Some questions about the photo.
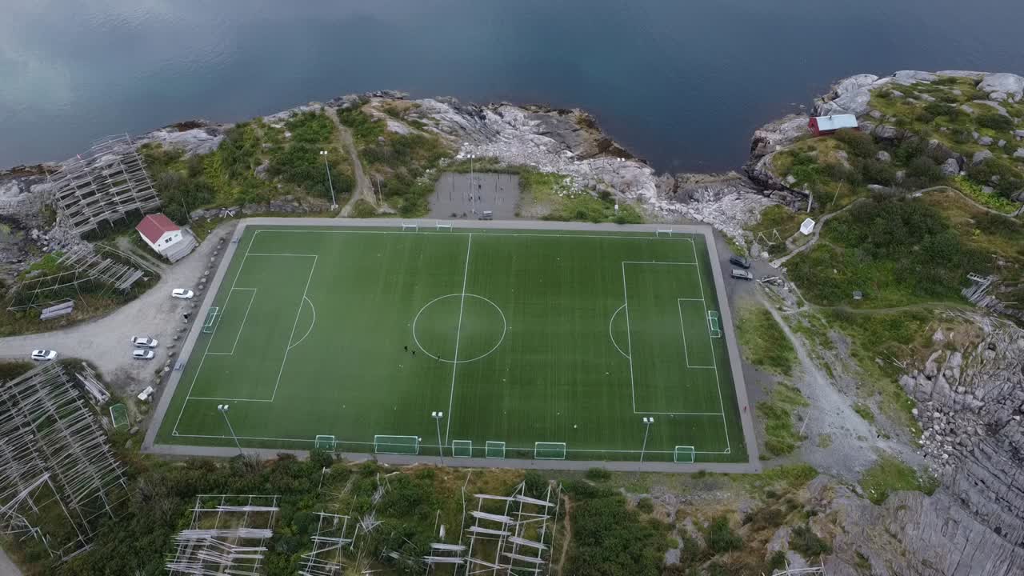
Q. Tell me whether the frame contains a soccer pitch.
Yes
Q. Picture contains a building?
Yes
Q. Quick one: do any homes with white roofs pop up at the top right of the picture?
Yes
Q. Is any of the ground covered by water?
Yes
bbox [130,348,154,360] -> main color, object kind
white vehicle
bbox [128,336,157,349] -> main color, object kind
white vehicle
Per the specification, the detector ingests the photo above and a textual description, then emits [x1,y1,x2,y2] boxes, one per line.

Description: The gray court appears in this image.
[429,173,522,221]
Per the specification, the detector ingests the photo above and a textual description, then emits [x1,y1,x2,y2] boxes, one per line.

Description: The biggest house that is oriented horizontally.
[809,112,857,137]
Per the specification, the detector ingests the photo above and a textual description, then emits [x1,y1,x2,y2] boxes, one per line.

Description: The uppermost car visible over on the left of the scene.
[170,288,193,300]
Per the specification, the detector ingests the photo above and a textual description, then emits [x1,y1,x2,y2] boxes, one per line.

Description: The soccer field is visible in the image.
[139,217,760,474]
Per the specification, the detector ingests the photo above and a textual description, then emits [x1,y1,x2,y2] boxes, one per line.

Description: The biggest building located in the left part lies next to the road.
[136,214,198,264]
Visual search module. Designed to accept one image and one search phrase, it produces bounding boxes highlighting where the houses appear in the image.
[809,112,857,137]
[136,214,198,264]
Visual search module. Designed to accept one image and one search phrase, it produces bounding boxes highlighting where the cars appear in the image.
[130,348,154,360]
[170,288,193,300]
[29,350,55,361]
[732,268,753,280]
[730,254,751,267]
[128,336,157,349]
